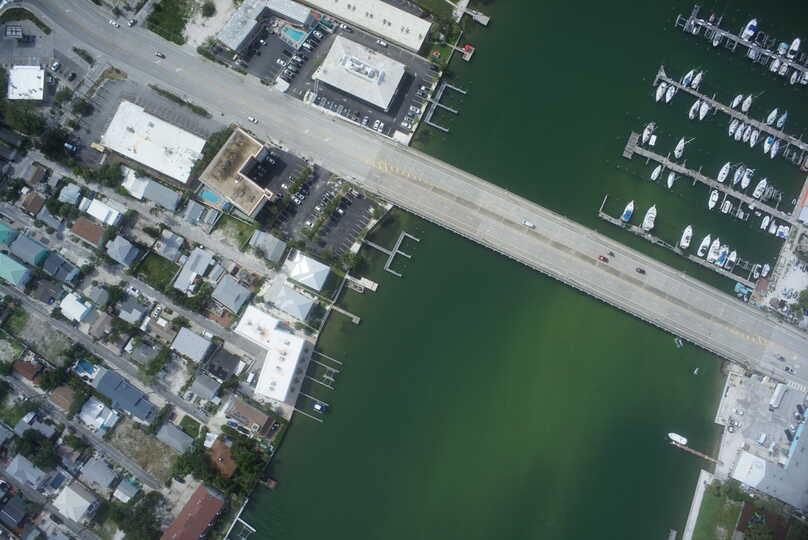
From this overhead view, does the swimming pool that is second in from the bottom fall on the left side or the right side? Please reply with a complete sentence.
The swimming pool that is second in from the bottom sits on the left side.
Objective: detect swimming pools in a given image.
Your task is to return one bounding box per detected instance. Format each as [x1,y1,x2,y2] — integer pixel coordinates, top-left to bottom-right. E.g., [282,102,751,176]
[72,361,98,384]
[279,22,311,48]
[194,182,235,216]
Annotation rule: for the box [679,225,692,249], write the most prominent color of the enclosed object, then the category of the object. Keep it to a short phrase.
white boat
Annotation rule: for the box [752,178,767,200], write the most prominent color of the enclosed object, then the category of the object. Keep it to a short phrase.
white boat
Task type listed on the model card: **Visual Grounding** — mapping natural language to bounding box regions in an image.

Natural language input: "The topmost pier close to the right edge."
[675,3,808,72]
